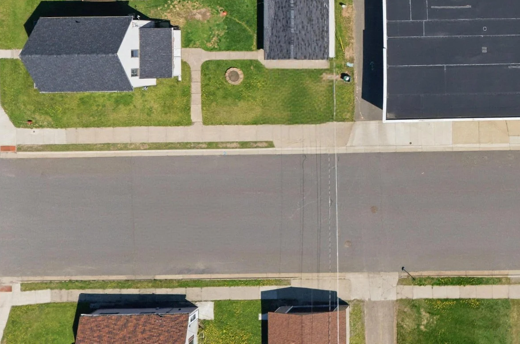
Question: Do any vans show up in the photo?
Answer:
No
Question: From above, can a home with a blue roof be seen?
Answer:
No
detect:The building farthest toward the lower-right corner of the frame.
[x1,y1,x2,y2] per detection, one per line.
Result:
[268,306,350,344]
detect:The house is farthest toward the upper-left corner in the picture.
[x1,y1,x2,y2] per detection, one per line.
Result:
[20,15,181,93]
